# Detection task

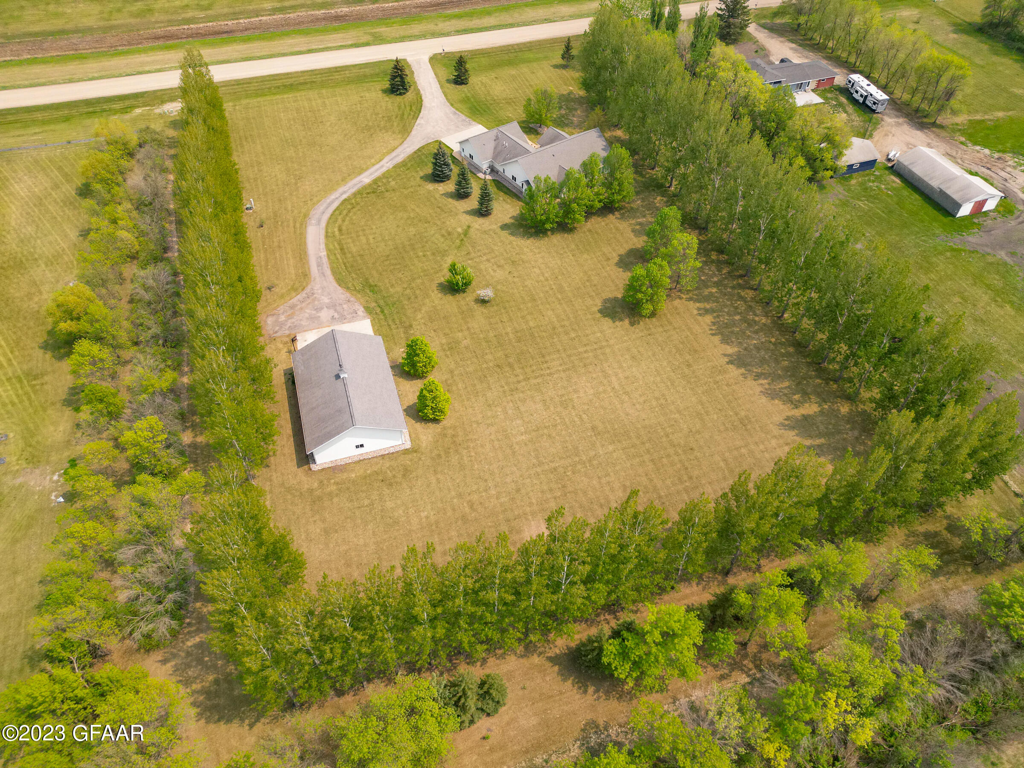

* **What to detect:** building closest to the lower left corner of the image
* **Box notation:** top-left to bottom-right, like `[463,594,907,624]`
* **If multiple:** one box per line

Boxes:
[291,329,408,464]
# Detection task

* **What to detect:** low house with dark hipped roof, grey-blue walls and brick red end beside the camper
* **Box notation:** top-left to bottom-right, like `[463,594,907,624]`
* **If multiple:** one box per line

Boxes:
[736,57,840,94]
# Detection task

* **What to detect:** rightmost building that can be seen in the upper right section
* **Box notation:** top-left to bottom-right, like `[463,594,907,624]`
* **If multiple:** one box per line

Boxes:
[893,146,1005,218]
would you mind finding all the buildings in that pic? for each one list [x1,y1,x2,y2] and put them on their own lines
[814,137,881,178]
[893,146,1005,218]
[736,57,840,94]
[291,329,408,464]
[455,121,613,200]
